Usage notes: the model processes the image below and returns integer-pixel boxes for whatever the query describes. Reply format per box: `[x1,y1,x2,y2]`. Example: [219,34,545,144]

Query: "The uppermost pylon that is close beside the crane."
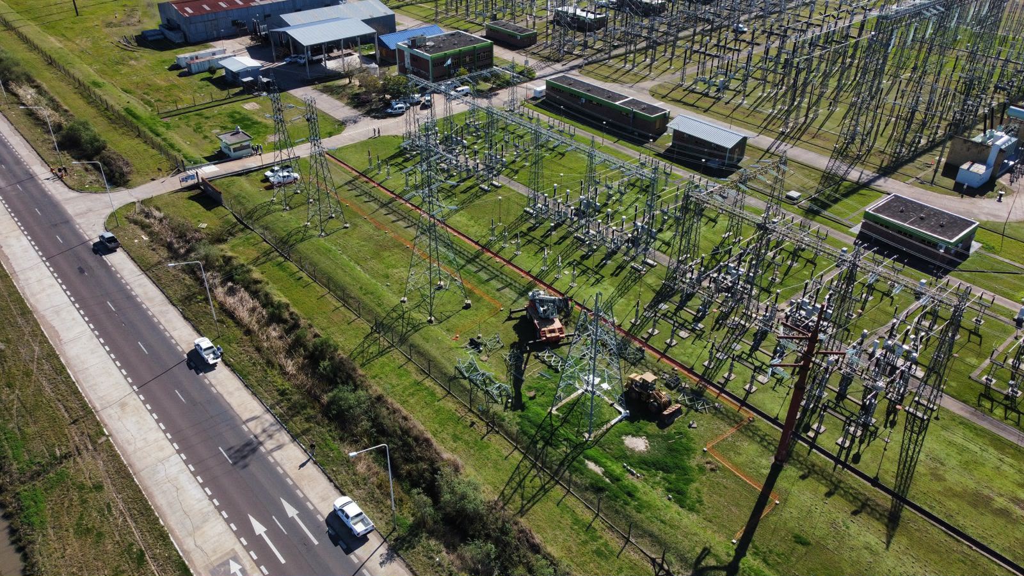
[391,114,474,322]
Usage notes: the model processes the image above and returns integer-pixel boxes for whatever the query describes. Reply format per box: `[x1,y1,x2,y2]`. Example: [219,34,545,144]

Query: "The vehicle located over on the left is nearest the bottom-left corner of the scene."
[193,340,222,370]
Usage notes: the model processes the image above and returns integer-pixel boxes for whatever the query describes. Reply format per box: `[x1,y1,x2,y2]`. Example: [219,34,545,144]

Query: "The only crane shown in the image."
[503,289,586,354]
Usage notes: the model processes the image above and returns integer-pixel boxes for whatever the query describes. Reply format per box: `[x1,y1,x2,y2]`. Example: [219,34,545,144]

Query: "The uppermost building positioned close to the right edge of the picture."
[859,194,979,266]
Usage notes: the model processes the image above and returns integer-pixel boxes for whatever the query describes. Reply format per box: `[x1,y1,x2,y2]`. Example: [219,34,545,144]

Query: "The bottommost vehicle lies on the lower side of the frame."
[331,500,378,545]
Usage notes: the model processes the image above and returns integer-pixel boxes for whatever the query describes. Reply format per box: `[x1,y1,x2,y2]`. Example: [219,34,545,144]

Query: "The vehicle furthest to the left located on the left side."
[98,234,121,253]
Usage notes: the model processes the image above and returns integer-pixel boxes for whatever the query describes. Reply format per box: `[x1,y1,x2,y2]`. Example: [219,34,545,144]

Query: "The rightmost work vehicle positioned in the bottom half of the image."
[619,371,686,432]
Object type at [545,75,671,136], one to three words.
building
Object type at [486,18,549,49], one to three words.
shed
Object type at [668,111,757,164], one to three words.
building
